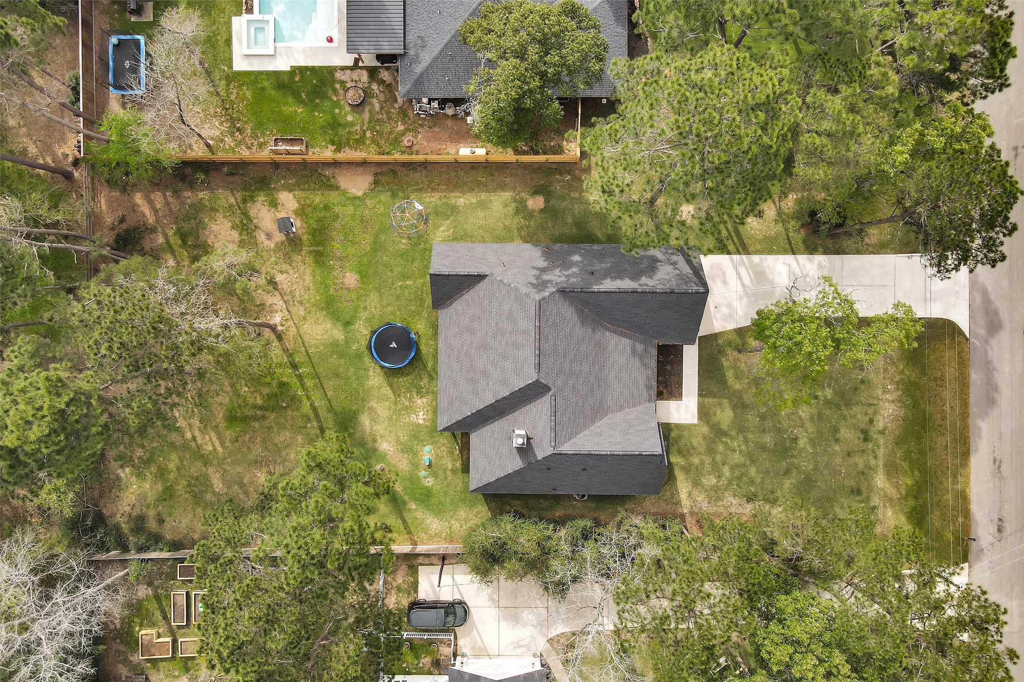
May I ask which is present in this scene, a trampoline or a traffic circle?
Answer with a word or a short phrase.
trampoline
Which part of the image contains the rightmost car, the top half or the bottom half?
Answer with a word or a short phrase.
bottom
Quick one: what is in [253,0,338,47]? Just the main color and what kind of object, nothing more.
white swimming pool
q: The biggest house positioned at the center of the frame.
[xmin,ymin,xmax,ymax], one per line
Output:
[430,243,710,495]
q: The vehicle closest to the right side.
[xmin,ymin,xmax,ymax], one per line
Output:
[407,601,469,634]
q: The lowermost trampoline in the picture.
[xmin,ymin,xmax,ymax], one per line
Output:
[365,321,422,370]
